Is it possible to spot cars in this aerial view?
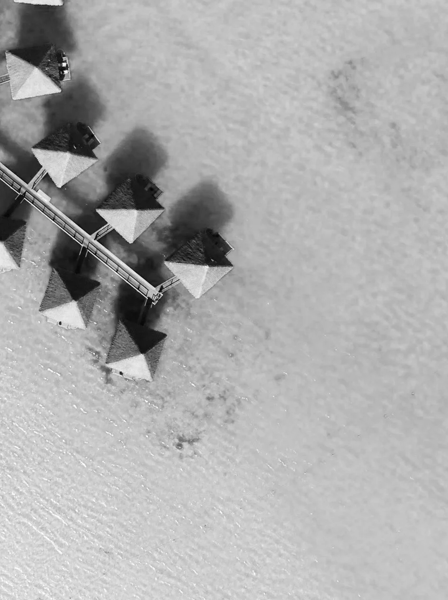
No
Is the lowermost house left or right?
left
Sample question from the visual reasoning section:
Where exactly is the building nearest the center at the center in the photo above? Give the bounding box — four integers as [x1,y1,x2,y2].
[165,229,236,298]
